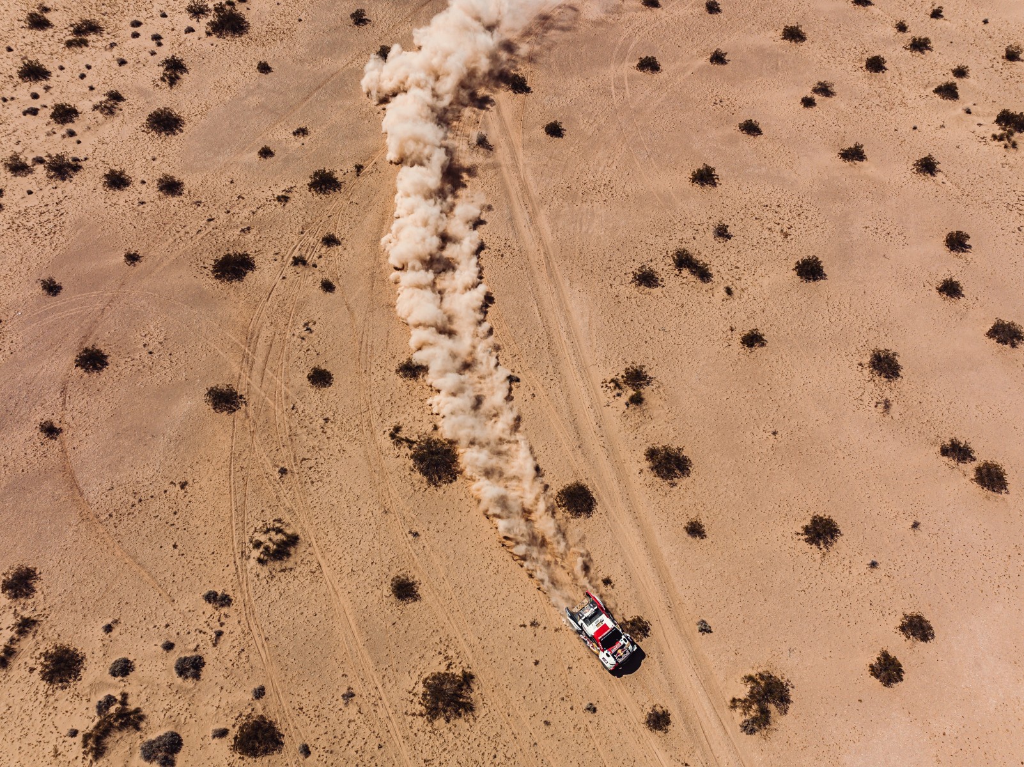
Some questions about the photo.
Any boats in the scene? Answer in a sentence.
No, no boat is visible in the scene.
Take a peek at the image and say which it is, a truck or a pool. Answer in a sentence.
There is a truck in the scene.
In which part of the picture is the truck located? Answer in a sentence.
The truck sits in the bottom section of the image.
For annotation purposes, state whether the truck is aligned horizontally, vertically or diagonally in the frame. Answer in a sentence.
I'd say the truck is aligned diagonally in the picture.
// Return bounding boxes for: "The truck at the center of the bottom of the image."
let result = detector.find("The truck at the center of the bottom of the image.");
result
[566,591,639,673]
